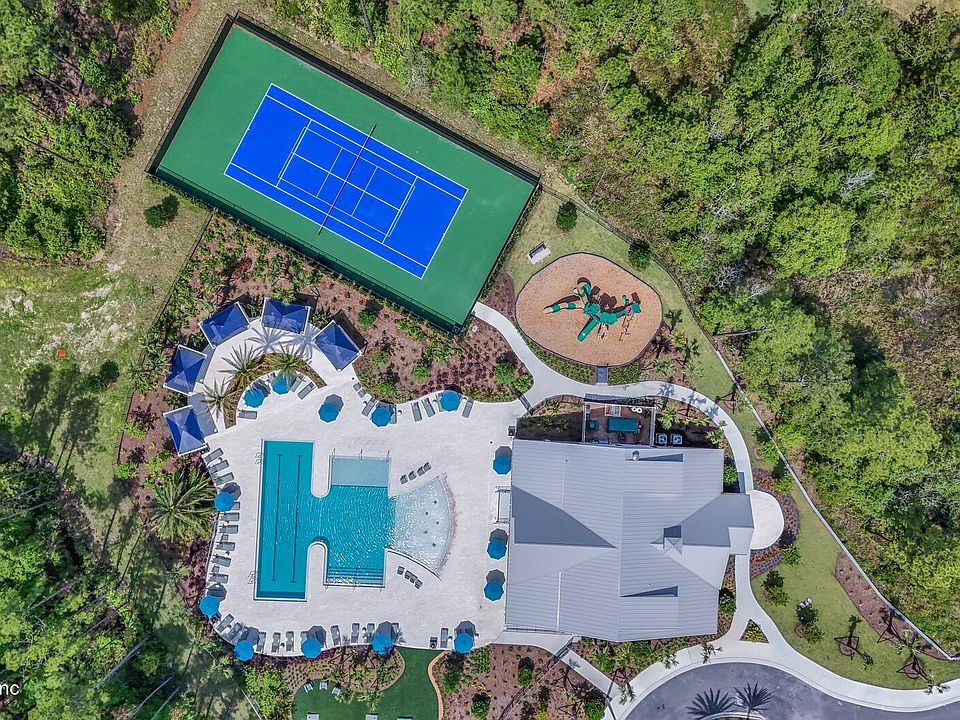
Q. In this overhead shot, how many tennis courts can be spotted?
1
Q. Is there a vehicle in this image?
No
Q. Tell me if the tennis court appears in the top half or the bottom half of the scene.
top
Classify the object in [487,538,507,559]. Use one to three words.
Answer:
umbrella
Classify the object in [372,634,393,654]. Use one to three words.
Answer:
umbrella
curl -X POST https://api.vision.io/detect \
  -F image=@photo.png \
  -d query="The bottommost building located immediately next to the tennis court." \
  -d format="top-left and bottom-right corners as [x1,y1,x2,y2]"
[503,439,754,640]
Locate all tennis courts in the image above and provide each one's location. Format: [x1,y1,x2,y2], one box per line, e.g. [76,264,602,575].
[157,25,535,334]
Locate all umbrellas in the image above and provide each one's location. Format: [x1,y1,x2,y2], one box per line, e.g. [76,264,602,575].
[372,634,393,654]
[440,390,459,410]
[301,638,322,658]
[234,640,255,661]
[492,455,512,474]
[484,580,503,600]
[214,490,235,511]
[201,595,220,615]
[371,406,392,427]
[245,386,266,407]
[454,632,474,652]
[319,402,339,423]
[273,373,292,393]
[487,538,507,559]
